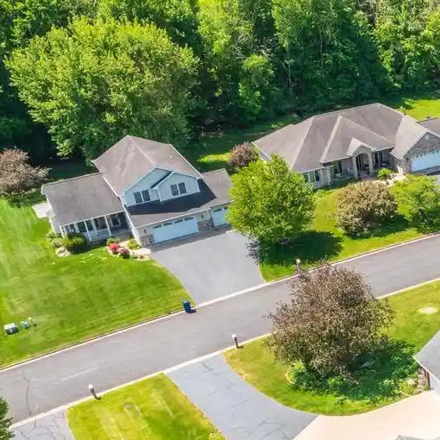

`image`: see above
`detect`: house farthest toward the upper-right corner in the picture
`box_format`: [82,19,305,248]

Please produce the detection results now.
[252,104,440,187]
